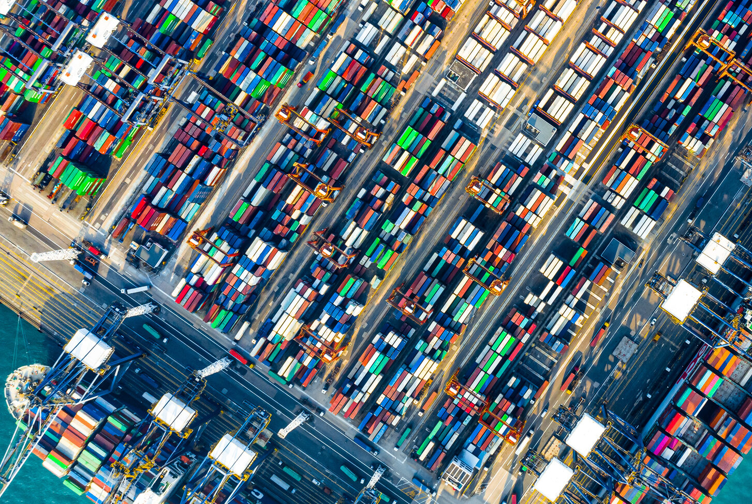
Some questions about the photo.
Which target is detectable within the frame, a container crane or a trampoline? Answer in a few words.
container crane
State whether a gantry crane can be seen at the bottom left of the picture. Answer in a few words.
Yes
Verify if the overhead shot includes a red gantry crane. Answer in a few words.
No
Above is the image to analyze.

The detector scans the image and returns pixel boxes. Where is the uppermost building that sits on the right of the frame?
[445,60,477,91]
